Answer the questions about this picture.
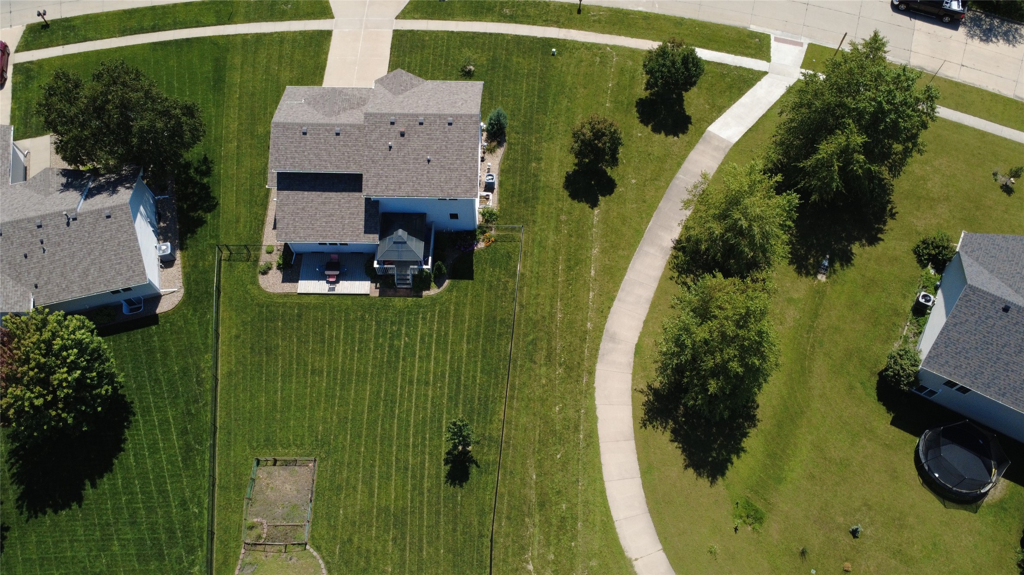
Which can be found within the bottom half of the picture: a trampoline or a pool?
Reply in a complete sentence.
There is a trampoline within the bottom half of the picture.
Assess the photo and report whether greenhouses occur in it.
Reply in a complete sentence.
No, there isn't any greenhouse down there.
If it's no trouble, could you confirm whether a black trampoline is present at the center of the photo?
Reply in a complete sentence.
No, looking at the center of the photo, there is no black trampoline.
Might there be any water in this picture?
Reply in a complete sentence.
No, there is no water in the image.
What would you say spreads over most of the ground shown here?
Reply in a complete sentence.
The scene is dominated by grass.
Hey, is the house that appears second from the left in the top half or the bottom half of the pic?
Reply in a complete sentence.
Seen from above, the house that appears second from the left lies in the top half of the view.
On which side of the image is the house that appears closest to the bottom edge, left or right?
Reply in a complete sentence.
It is on the right.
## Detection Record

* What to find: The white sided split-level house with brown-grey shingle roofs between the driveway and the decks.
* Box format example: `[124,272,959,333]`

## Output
[267,66,482,255]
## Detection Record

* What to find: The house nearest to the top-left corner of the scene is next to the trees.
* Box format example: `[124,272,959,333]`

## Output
[0,125,177,331]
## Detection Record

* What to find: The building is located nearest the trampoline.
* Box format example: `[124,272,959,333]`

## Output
[903,230,1024,442]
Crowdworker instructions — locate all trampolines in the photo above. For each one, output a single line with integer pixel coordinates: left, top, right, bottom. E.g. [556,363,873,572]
[914,420,1011,503]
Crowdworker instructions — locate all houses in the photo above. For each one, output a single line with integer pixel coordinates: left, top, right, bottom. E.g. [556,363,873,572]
[0,125,177,331]
[903,230,1024,442]
[267,66,482,255]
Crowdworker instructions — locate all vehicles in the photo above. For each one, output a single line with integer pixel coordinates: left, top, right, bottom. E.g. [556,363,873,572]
[888,0,970,26]
[0,38,12,86]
